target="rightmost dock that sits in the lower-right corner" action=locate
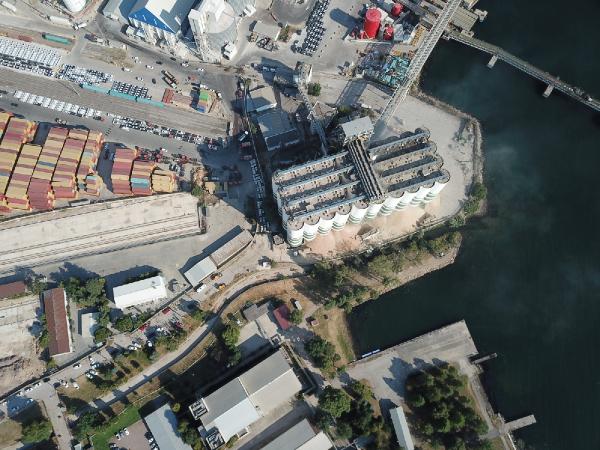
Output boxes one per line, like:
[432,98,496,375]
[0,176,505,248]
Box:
[499,413,537,435]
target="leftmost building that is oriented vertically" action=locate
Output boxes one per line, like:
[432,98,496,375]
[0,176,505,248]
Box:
[44,287,74,357]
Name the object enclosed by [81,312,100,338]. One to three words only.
house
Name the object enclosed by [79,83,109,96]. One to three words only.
rail car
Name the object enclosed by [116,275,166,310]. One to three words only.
building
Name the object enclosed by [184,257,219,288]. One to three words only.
building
